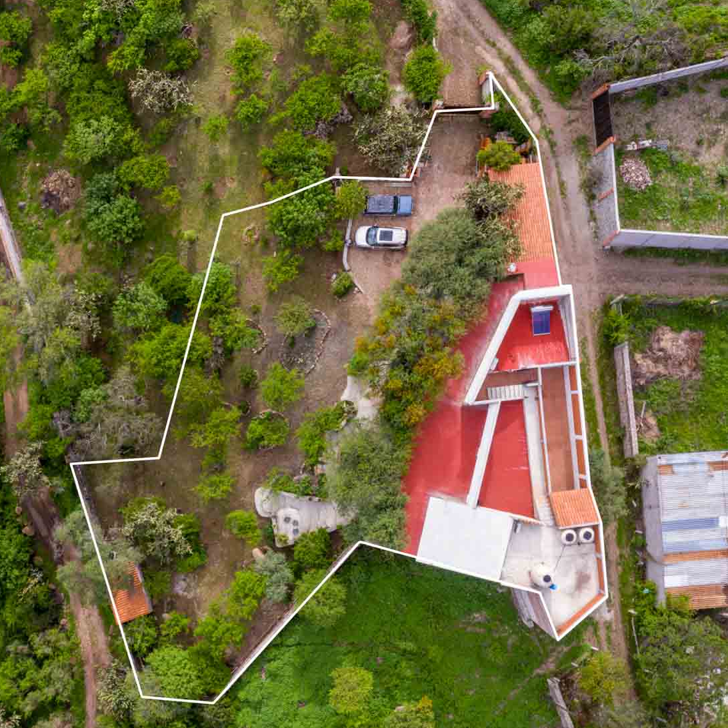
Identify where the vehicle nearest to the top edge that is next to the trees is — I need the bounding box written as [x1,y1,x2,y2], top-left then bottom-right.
[364,192,411,218]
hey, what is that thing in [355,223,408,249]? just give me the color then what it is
white car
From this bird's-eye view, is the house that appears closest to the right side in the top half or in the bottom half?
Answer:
bottom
